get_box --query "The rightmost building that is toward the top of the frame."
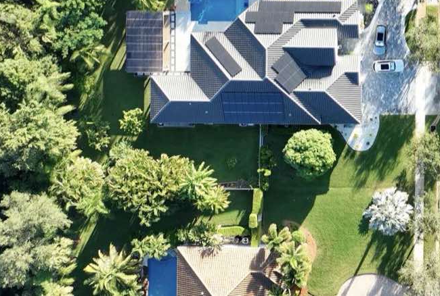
[150,0,363,125]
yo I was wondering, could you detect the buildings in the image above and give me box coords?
[176,243,292,296]
[150,0,363,125]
